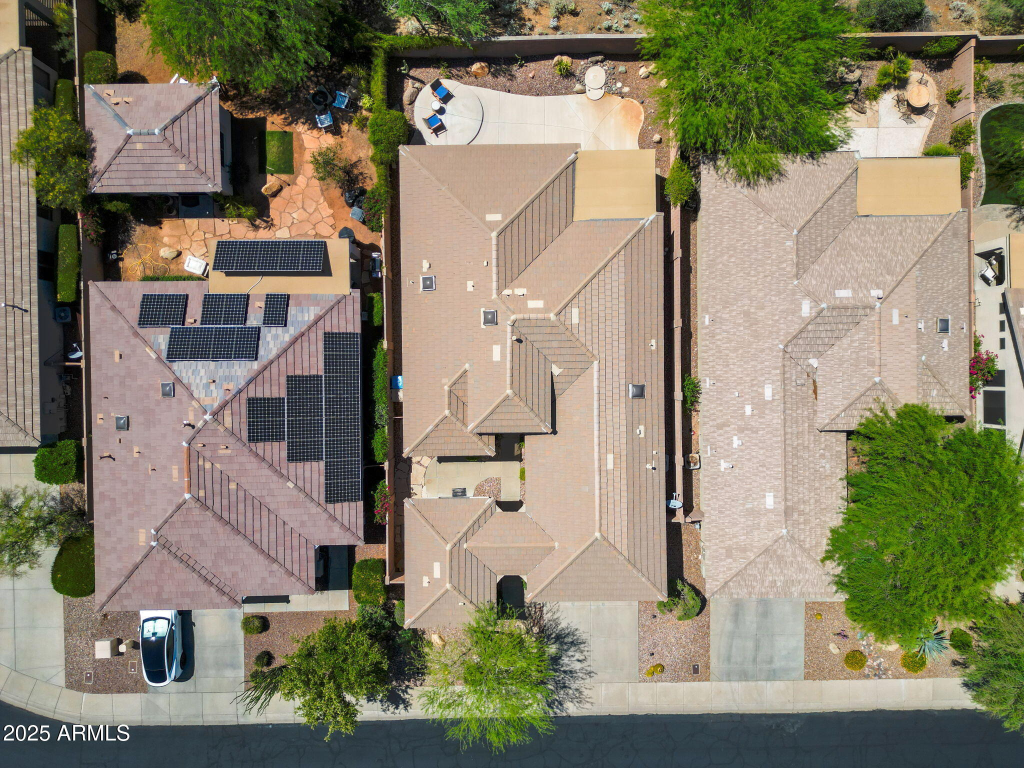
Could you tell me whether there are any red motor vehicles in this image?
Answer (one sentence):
No, there appears to be no red motor vehicle in this shot.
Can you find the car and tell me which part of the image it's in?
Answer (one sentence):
The car sits in the bottom left section of the image.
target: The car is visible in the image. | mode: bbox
[137,611,187,686]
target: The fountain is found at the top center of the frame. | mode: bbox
[585,70,605,104]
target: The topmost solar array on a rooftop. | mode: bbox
[213,241,324,271]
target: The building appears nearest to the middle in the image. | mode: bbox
[398,142,668,630]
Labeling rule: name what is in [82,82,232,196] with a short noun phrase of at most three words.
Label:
house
